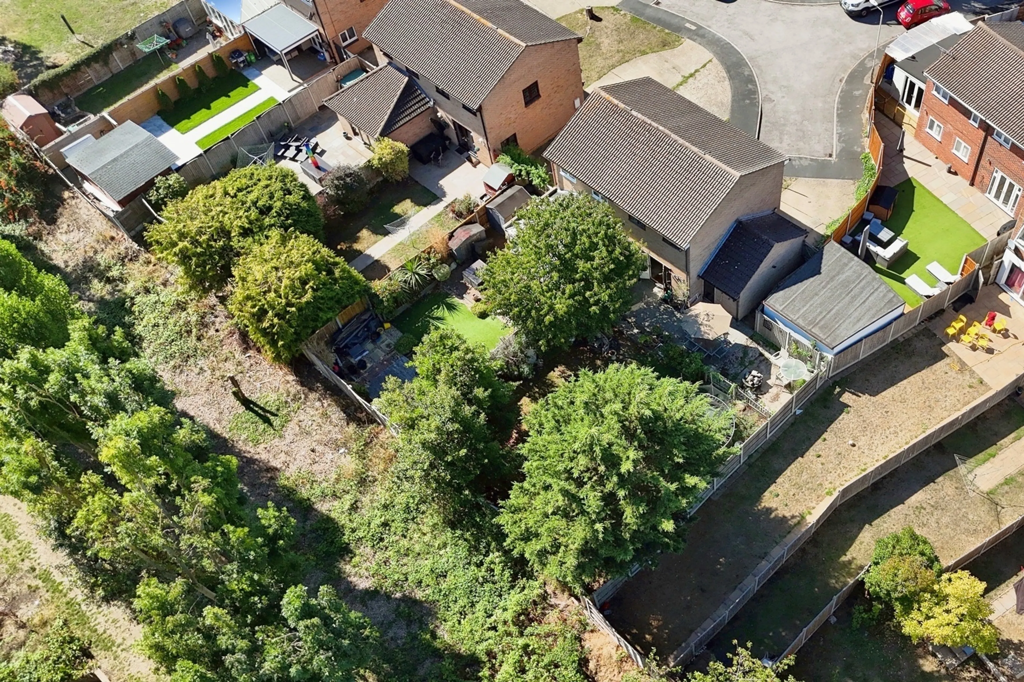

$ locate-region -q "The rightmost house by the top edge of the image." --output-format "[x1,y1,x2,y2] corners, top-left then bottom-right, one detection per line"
[895,18,1024,212]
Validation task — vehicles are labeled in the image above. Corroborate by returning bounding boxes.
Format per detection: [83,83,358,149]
[895,0,952,32]
[842,0,903,20]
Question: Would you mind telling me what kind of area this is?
residential area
